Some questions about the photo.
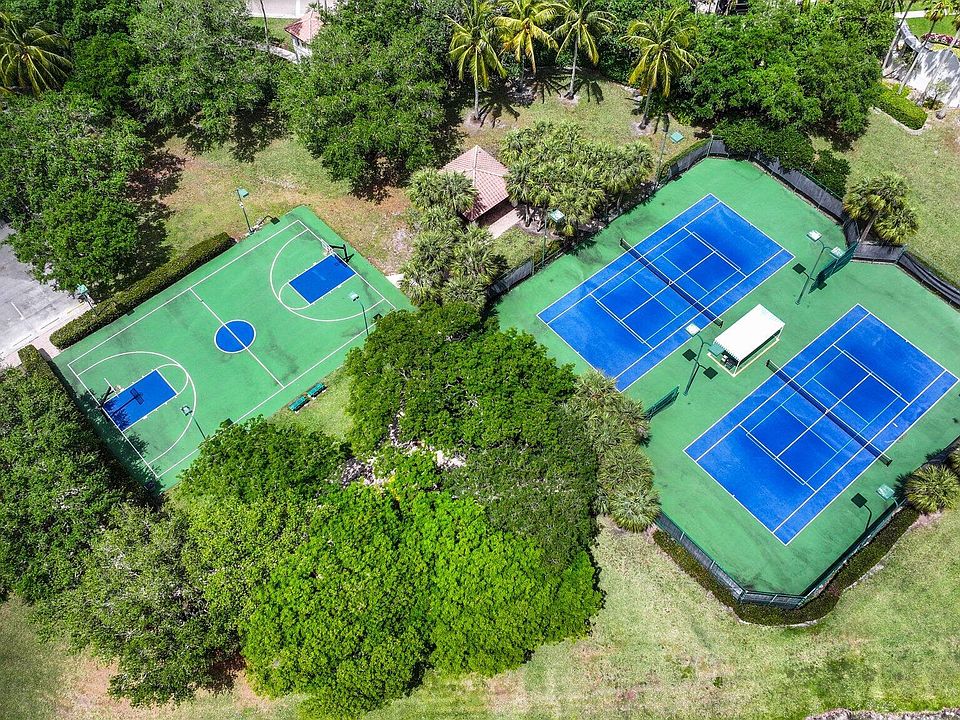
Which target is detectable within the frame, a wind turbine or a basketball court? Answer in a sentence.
The image shows a basketball court.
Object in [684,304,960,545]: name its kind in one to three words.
tennis court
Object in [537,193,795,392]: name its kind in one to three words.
tennis court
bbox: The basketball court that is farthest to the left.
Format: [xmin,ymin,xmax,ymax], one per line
[49,205,412,494]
